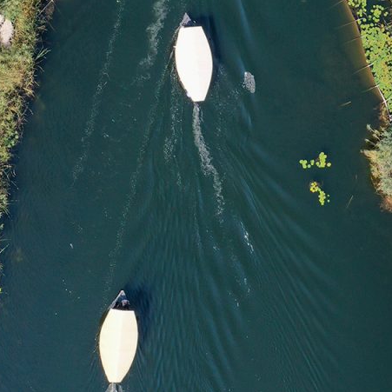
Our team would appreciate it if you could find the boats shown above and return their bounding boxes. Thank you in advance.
[100,291,137,383]
[172,14,212,107]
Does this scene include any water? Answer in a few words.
Yes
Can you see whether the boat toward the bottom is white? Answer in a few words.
Yes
